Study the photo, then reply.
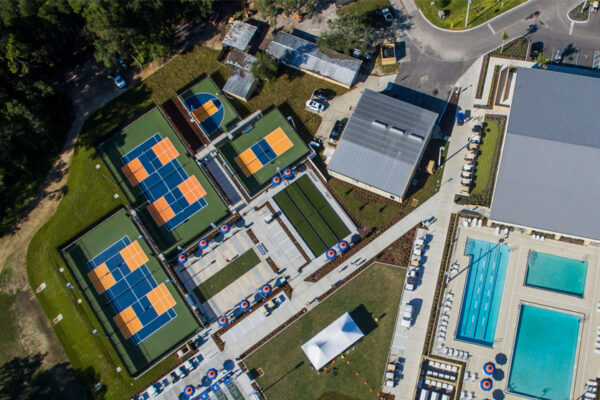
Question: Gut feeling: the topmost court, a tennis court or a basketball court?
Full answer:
From above, the topmost court can be identified as a basketball court.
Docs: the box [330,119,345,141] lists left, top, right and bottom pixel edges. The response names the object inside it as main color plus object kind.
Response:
black vehicle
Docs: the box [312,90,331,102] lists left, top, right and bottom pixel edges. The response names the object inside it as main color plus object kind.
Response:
black vehicle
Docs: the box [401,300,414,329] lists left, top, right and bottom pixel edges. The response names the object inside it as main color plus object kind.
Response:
white vehicle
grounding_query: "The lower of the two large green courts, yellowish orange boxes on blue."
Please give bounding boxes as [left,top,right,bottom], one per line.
[62,210,200,373]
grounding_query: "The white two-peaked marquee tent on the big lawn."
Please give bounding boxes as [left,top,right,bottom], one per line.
[301,313,365,372]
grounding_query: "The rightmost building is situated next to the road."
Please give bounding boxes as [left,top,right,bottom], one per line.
[490,67,600,249]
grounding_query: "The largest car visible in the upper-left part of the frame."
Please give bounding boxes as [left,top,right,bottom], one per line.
[114,75,127,90]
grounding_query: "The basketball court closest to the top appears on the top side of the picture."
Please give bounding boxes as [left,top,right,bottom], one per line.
[178,77,239,141]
